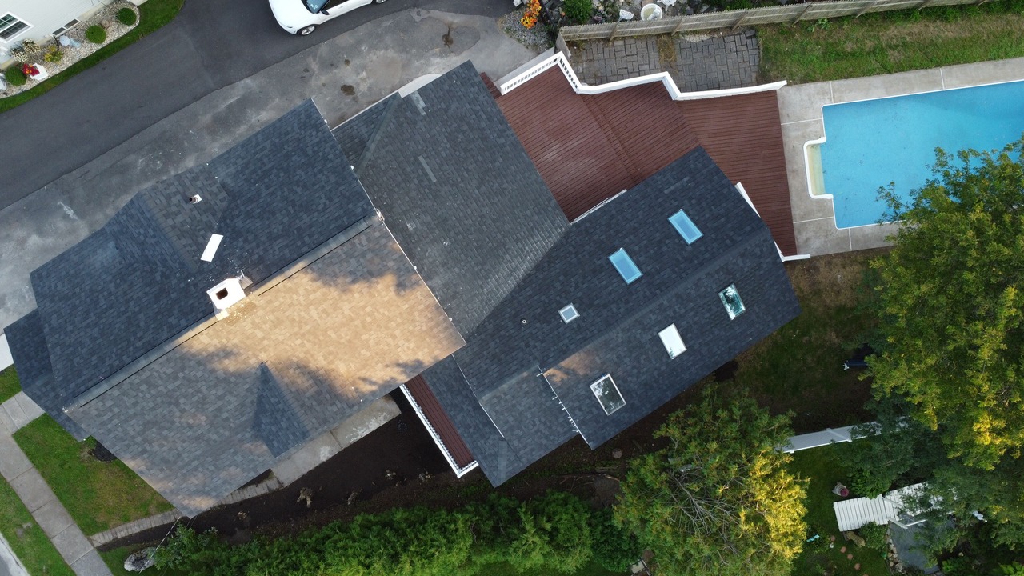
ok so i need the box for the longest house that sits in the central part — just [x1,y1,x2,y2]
[6,61,802,518]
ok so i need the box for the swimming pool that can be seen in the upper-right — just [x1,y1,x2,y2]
[803,79,1024,230]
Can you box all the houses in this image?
[0,0,111,61]
[6,61,802,518]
